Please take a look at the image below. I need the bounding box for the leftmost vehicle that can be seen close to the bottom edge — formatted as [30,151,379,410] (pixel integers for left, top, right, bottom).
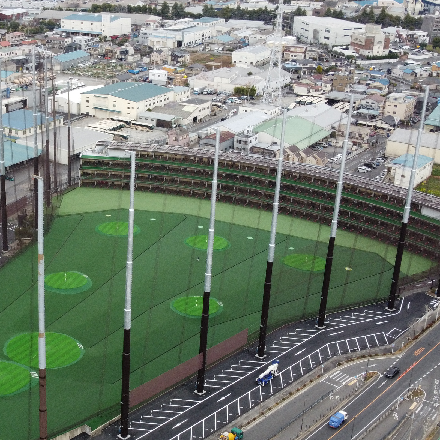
[222,423,245,440]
